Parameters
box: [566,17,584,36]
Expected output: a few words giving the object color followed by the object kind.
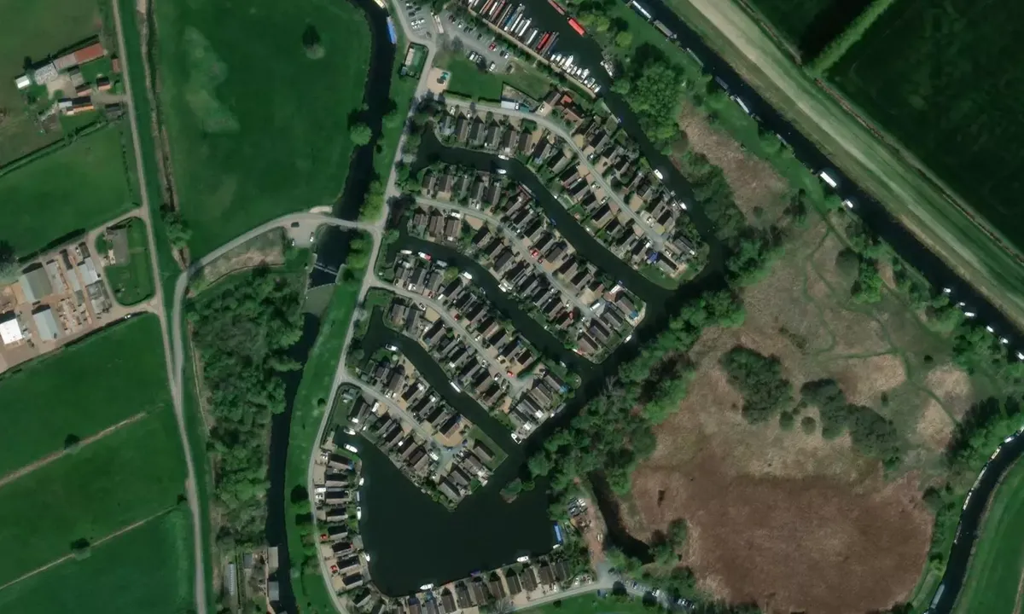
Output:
red boat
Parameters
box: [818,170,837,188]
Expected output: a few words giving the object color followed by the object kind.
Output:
white boat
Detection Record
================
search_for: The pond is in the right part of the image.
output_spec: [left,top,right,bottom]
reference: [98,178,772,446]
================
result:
[588,471,654,565]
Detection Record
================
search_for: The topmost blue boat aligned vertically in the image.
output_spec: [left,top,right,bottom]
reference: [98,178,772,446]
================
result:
[385,17,397,43]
